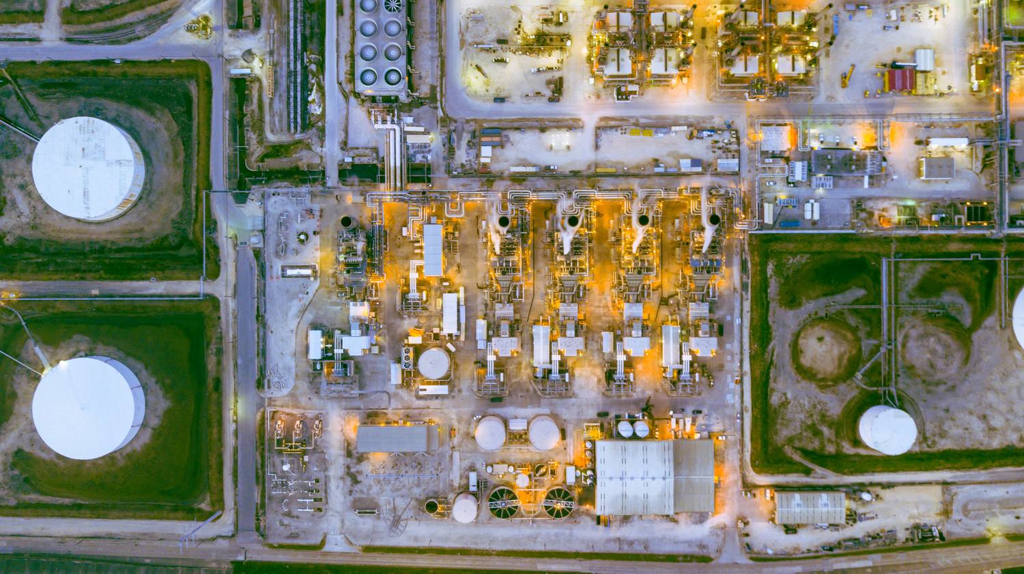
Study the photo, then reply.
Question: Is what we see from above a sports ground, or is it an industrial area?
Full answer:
This looks like an industrial area.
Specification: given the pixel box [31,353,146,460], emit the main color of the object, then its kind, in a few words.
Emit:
white storage tank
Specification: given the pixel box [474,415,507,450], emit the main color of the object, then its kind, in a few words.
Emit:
white water tank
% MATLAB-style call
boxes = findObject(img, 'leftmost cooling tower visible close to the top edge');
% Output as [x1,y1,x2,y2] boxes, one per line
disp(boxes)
[354,0,416,107]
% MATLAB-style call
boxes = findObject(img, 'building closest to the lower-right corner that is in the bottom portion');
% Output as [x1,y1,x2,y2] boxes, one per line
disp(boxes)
[774,489,846,524]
